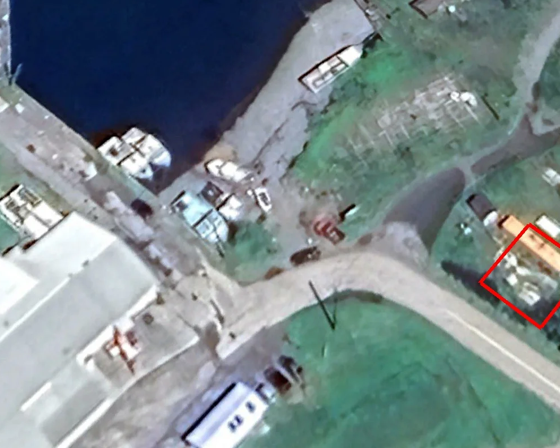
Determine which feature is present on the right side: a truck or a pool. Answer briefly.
truck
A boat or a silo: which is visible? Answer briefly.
boat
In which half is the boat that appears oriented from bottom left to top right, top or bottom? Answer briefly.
top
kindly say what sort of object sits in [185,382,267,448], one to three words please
house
